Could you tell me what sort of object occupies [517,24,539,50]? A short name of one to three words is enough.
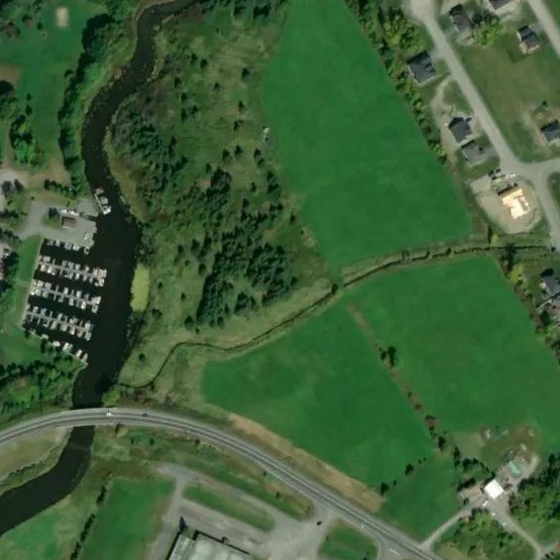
house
